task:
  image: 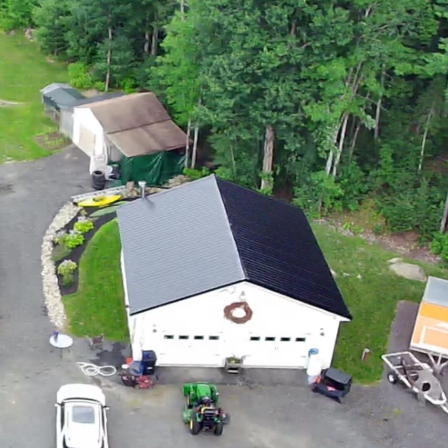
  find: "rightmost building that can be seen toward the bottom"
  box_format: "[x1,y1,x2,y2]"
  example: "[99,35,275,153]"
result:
[114,171,355,368]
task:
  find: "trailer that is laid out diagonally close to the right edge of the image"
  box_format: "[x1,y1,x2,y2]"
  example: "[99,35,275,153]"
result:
[376,357,448,417]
